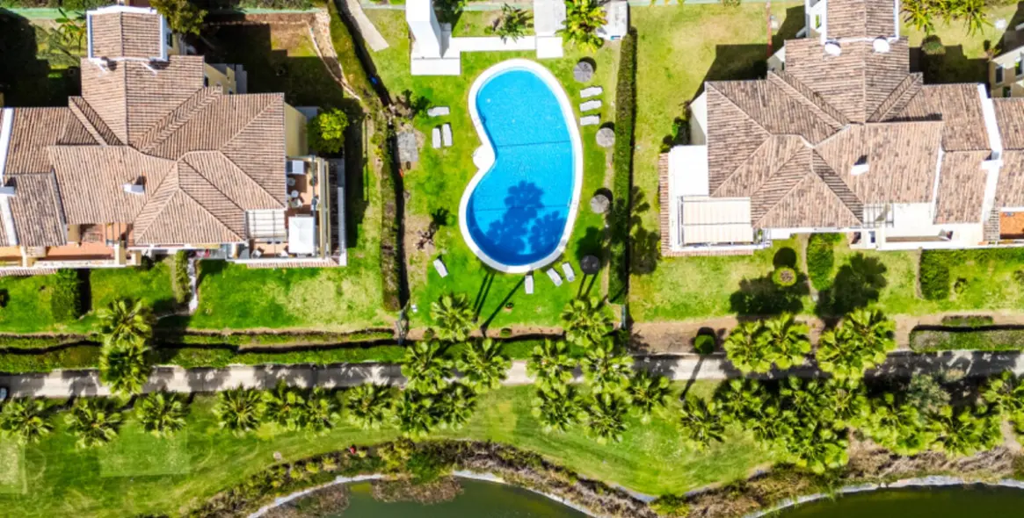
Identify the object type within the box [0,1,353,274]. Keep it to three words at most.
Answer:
house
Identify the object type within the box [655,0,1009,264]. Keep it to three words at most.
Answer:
house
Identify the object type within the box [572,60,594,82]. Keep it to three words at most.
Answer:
umbrella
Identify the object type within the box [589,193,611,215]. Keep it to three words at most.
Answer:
umbrella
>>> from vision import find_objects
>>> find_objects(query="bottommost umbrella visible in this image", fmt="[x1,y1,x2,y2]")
[579,253,601,275]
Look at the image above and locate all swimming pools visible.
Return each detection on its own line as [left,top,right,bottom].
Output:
[459,58,583,272]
